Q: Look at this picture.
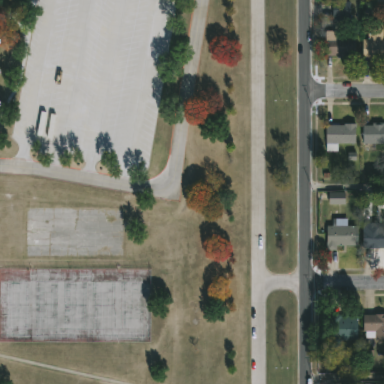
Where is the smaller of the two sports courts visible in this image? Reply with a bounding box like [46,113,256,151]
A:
[27,208,123,256]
